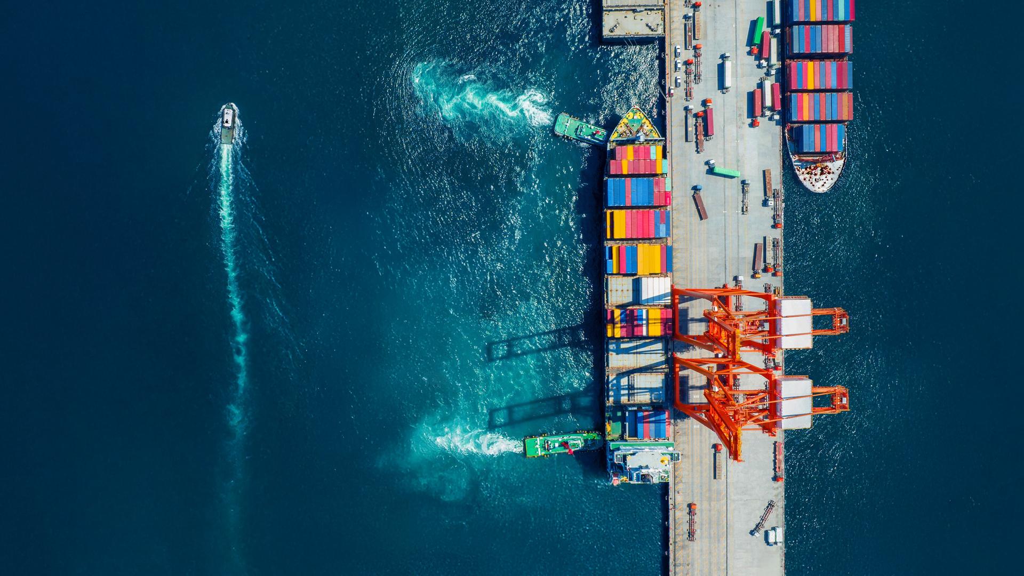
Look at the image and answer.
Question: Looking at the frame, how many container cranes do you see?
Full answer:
Looking from above, you can make out 2 container cranes.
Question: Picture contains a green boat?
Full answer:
Yes, looking at the shot, I can spot a green boat.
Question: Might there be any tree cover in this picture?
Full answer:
No, there is no tree cover in the image.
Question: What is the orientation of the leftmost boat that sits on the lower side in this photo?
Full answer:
The leftmost boat that sits on the lower side has been laid out from left to right relative to the frame.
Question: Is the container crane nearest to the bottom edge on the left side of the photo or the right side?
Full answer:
You can find the container crane nearest to the bottom edge on the right side of the picture.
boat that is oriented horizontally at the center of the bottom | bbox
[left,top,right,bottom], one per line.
[524,432,604,460]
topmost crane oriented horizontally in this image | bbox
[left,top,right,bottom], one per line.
[672,286,849,360]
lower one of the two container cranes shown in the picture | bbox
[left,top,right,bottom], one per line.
[672,355,849,459]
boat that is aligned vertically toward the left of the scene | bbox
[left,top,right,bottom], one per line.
[221,103,236,146]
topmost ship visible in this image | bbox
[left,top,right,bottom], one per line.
[602,0,664,41]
